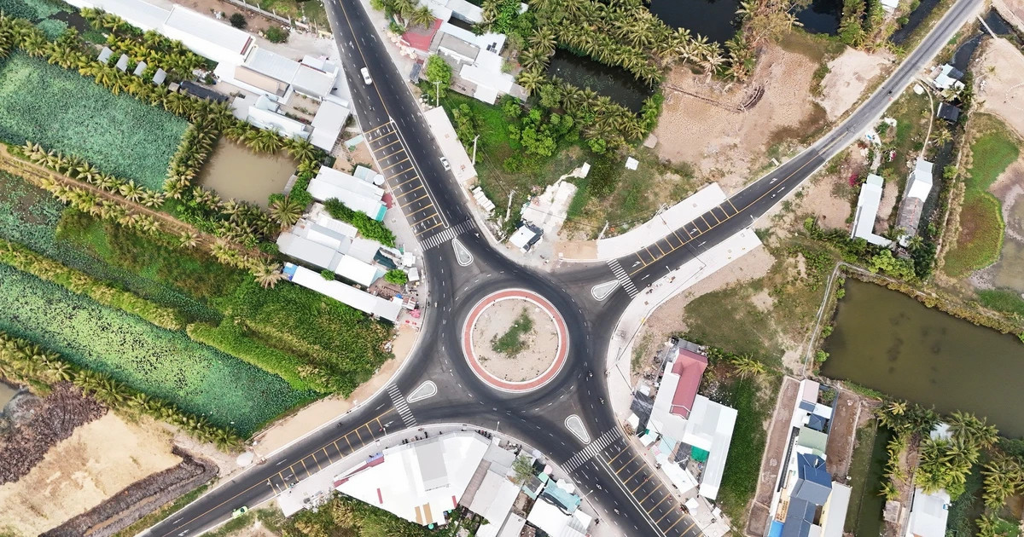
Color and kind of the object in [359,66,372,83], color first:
white vehicle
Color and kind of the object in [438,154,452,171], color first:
white car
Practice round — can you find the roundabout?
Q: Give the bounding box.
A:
[461,288,568,395]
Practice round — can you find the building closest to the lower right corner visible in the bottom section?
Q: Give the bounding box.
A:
[903,487,950,537]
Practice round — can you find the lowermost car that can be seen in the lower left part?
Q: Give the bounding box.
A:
[229,505,250,521]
